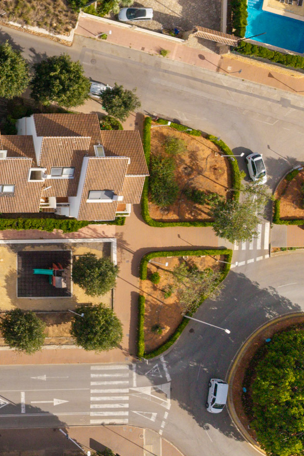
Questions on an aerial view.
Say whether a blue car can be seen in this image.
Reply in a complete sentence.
No, there appears to be no blue car in this shot.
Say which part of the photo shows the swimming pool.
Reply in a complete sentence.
The swimming pool is in the top right part of the image.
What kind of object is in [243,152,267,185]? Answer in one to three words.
car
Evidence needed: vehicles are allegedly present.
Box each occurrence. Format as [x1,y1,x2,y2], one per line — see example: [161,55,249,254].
[243,152,267,185]
[84,79,115,98]
[205,378,229,414]
[116,5,155,23]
